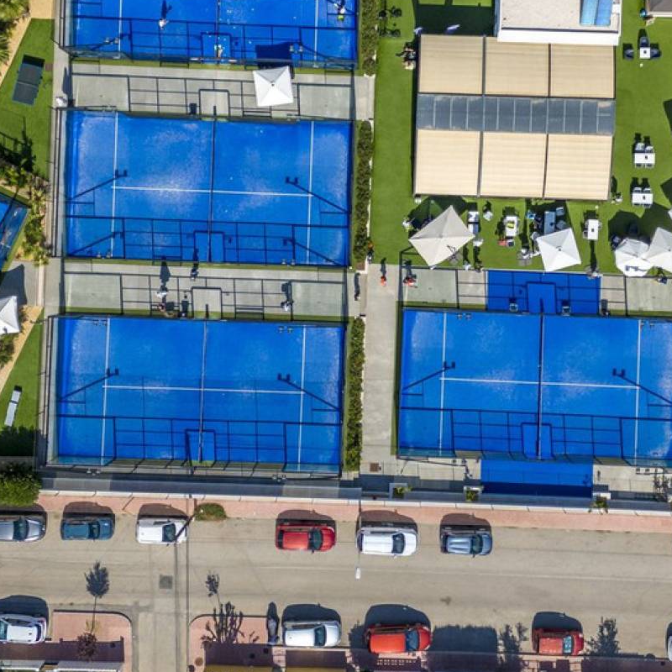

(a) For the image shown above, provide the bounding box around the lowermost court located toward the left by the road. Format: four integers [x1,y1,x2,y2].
[40,303,355,481]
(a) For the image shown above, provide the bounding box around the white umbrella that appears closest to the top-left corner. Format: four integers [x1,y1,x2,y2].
[252,65,294,107]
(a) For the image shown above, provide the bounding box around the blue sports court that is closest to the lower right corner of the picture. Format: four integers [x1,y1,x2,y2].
[388,300,672,477]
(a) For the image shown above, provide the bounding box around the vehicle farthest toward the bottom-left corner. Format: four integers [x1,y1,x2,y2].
[0,613,47,647]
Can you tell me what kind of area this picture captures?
sports ground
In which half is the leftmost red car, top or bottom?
bottom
